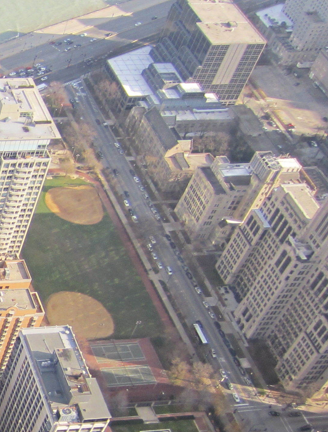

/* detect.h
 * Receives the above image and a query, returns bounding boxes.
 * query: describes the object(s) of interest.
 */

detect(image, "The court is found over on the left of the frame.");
[88,340,157,387]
